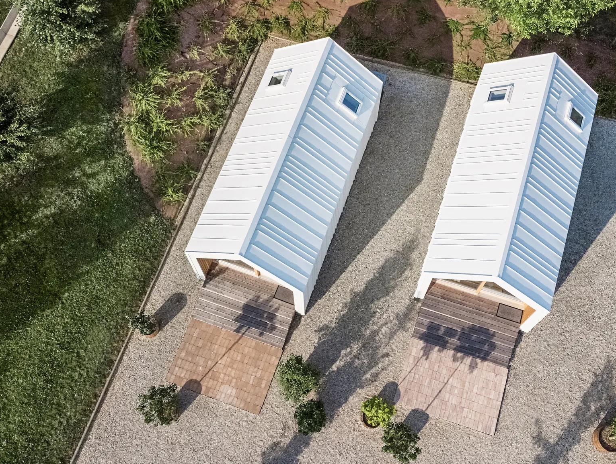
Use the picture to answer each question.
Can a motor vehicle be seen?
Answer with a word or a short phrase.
No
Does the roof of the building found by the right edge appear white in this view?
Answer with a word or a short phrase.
Yes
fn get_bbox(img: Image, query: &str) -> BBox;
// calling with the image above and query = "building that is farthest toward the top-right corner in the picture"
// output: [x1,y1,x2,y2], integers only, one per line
[414,49,598,333]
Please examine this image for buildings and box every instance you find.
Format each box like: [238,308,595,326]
[184,36,382,317]
[414,49,598,333]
